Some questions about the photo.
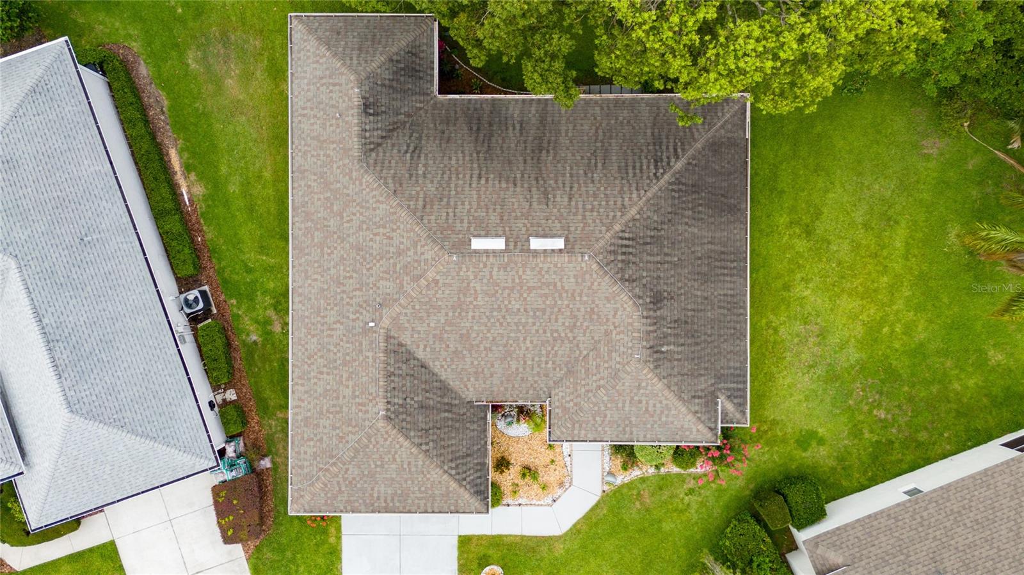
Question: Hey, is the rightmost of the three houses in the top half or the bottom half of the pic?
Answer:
bottom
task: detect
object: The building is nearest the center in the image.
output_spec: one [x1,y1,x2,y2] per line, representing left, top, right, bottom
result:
[289,14,749,514]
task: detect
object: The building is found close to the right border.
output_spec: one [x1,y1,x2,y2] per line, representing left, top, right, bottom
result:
[789,427,1024,575]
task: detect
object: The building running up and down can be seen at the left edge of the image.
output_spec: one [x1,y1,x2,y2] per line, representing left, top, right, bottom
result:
[0,37,239,531]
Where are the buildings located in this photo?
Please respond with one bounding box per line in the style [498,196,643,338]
[789,427,1024,575]
[0,37,239,531]
[289,14,749,514]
